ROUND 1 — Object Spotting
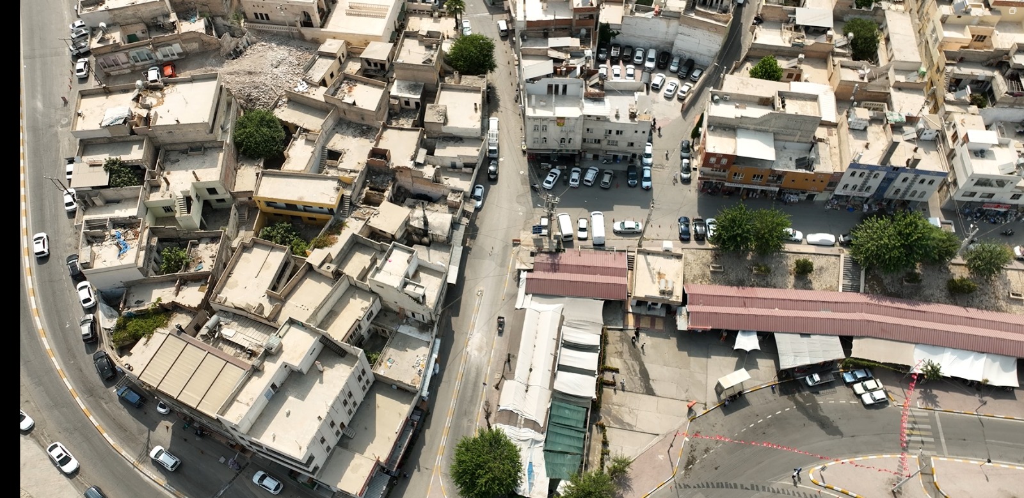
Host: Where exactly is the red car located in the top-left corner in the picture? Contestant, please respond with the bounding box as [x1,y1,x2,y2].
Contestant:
[162,61,176,79]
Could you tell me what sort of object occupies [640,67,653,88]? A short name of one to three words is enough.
vehicle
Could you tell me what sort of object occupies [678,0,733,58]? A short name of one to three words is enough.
house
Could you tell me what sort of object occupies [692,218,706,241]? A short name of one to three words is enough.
car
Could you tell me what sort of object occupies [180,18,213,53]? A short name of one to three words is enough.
house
